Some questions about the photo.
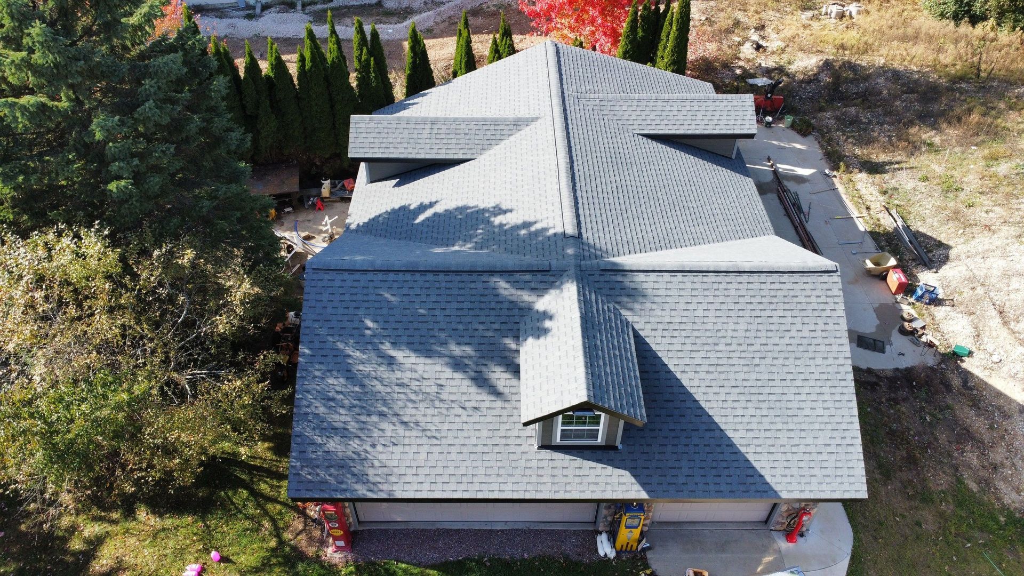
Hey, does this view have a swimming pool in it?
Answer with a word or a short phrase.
No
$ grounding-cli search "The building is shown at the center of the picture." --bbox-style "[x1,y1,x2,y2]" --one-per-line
[289,40,868,534]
